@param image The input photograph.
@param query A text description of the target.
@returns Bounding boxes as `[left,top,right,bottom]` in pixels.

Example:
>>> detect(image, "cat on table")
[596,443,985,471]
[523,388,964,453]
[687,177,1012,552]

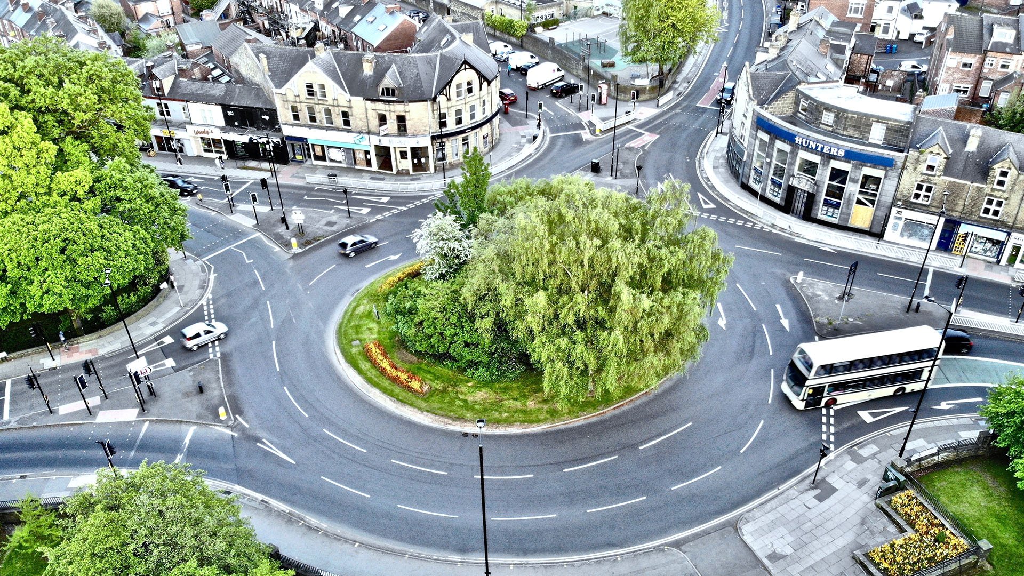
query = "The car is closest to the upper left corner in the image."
[159,169,195,192]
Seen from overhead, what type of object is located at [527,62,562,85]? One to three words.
vehicle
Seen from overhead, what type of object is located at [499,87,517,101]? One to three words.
car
